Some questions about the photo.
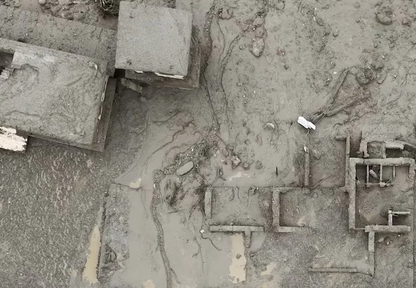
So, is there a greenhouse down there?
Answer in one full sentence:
No, the picture doesn't show any greenhouse.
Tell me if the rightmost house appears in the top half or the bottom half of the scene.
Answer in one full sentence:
It is in the bottom half that the rightmost house appears.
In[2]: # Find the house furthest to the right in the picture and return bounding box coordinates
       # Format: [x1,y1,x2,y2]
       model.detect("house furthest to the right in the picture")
[310,136,416,277]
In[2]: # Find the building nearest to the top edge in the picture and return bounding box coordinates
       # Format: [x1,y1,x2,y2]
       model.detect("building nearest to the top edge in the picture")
[115,1,201,92]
